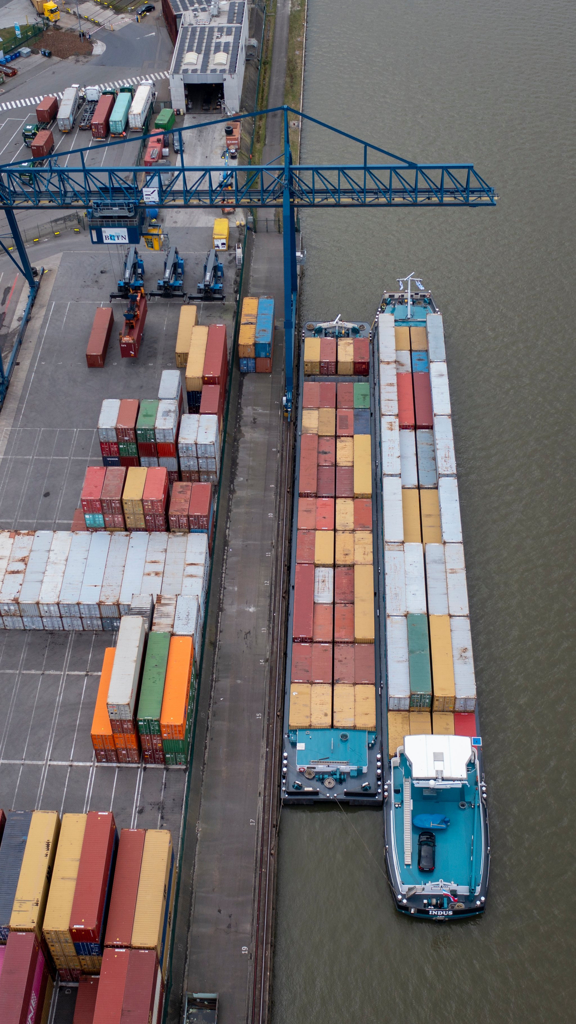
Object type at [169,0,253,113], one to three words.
building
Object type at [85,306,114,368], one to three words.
shipping container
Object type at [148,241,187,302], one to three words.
work vehicle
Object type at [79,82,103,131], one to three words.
truck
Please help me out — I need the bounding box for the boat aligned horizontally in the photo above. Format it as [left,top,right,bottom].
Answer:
[412,813,451,829]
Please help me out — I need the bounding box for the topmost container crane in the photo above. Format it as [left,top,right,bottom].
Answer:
[0,104,502,416]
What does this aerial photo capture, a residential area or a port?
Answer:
port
